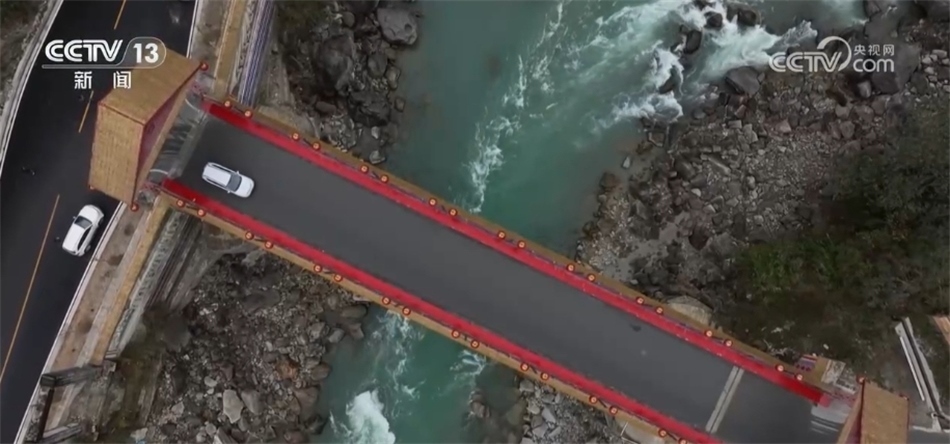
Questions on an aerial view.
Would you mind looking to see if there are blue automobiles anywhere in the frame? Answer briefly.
No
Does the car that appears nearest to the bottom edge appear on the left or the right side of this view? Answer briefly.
left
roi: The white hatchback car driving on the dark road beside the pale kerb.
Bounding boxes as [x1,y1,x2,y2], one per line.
[63,204,109,258]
